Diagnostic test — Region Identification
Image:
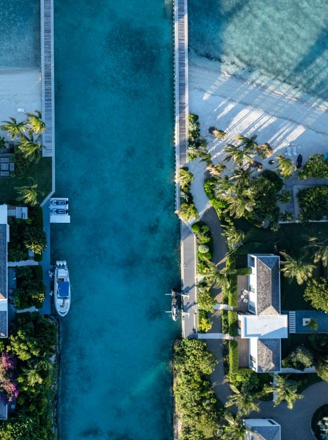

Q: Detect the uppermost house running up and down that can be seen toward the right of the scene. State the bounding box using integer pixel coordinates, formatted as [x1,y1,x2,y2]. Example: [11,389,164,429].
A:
[236,255,289,373]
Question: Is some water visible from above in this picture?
Yes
